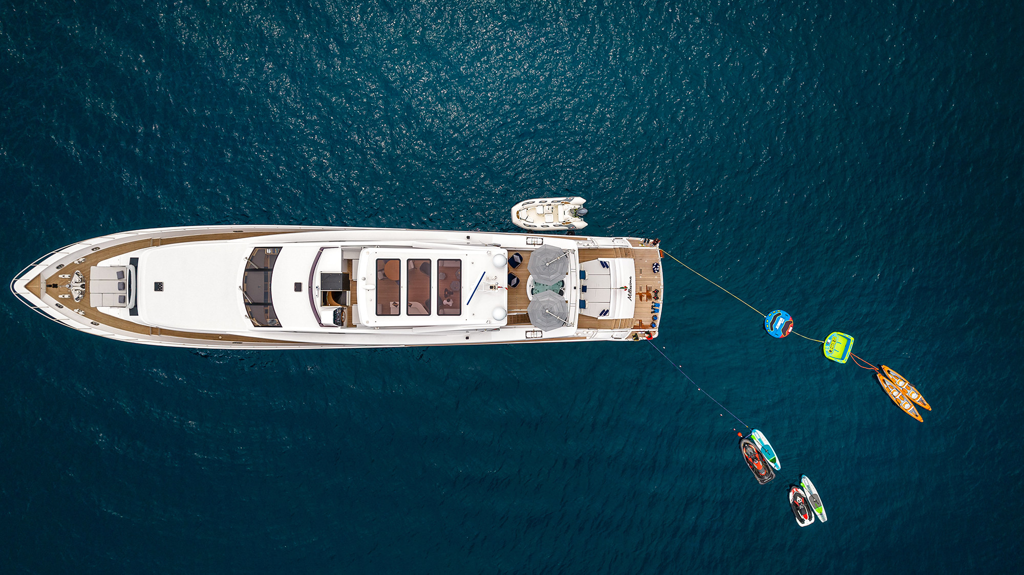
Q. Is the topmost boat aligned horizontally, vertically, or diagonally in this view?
horizontally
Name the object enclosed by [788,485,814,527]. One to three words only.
boat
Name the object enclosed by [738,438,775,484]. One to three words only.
boat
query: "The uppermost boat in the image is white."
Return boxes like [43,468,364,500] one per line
[511,196,588,231]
